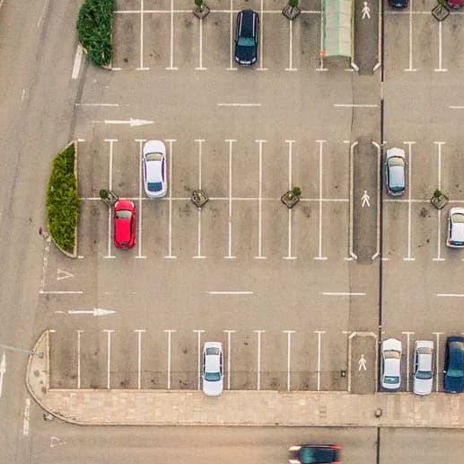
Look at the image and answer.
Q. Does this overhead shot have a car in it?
Yes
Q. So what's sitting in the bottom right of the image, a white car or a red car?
white car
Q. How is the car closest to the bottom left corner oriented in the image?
vertically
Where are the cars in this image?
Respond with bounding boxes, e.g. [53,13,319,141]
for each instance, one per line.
[411,342,436,394]
[200,342,223,395]
[388,0,410,9]
[384,149,408,196]
[141,141,167,198]
[112,202,136,248]
[380,339,403,389]
[234,10,258,66]
[292,443,338,464]
[446,208,464,249]
[443,337,464,392]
